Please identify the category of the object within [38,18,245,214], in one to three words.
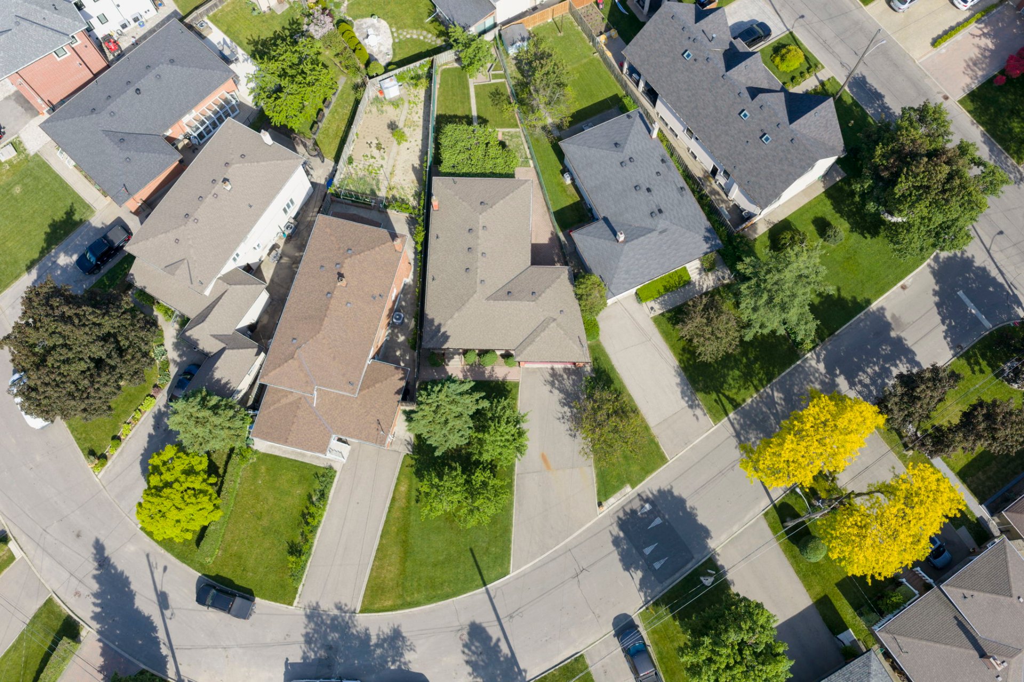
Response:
house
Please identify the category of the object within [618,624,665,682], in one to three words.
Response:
truck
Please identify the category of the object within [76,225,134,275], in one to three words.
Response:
truck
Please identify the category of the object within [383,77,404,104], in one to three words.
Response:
shed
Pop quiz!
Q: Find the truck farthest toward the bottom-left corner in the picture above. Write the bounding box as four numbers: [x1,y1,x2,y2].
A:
[193,580,260,619]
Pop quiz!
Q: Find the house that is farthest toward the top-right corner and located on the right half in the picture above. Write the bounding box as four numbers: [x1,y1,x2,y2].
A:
[621,1,850,220]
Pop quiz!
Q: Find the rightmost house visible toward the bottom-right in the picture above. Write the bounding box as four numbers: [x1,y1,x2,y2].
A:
[971,479,1024,556]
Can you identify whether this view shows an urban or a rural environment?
urban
